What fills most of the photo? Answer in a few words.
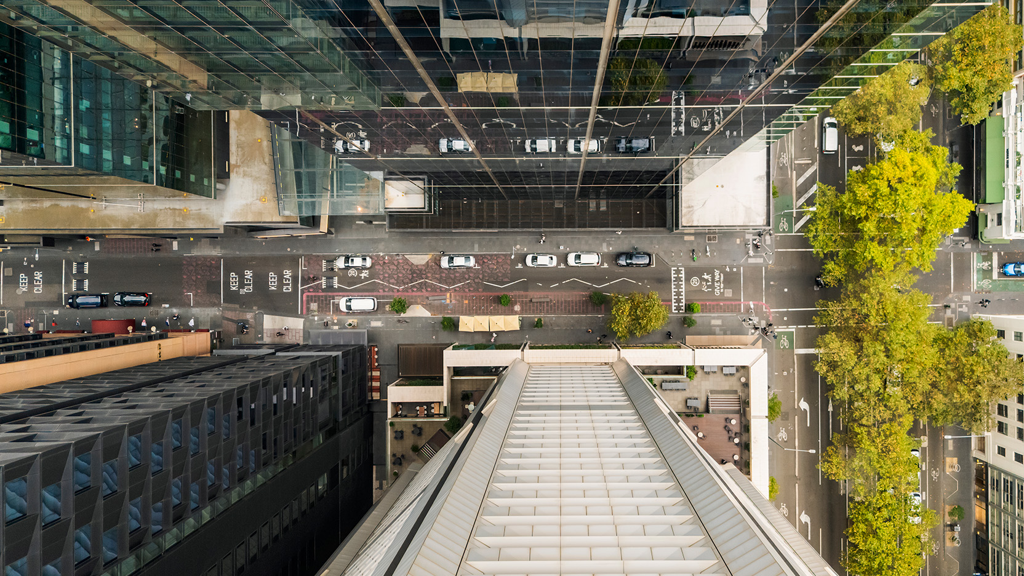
buildings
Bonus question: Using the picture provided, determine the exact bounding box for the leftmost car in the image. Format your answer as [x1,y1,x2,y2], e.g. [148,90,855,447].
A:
[69,293,109,310]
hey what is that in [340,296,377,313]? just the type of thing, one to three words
vehicle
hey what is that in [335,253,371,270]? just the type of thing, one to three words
car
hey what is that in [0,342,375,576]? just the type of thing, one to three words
building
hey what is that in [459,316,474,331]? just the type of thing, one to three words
umbrella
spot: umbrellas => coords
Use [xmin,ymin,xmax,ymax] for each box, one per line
[459,316,474,331]
[489,316,504,331]
[504,315,519,330]
[474,316,489,331]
